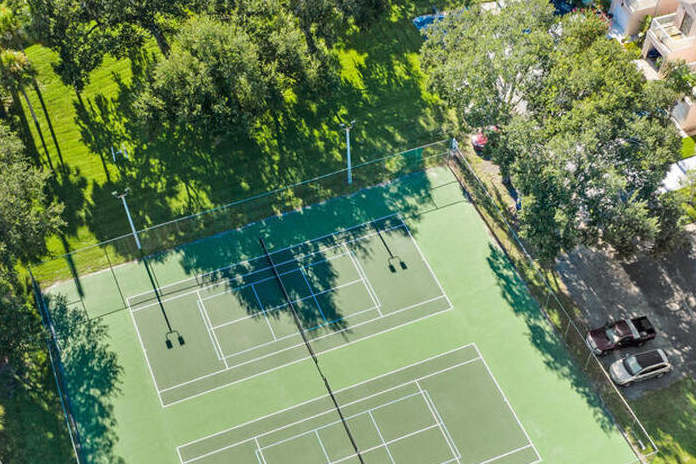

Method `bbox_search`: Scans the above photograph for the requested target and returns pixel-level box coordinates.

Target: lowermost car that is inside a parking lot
[611,348,675,390]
